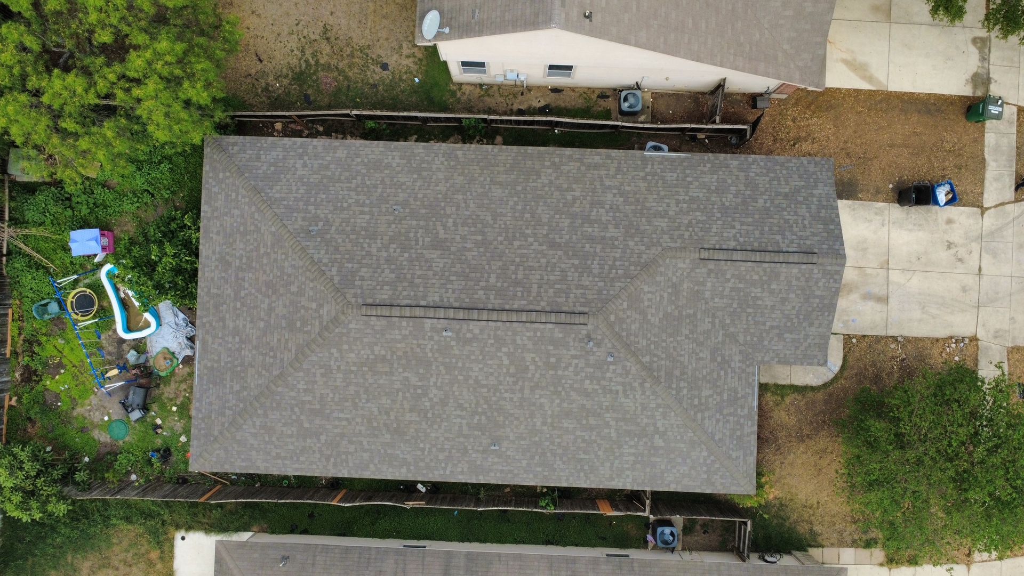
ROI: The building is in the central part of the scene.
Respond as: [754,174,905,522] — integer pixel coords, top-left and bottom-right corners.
[191,135,851,494]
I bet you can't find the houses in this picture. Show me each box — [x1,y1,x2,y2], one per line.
[191,135,851,494]
[213,533,849,576]
[416,0,842,100]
